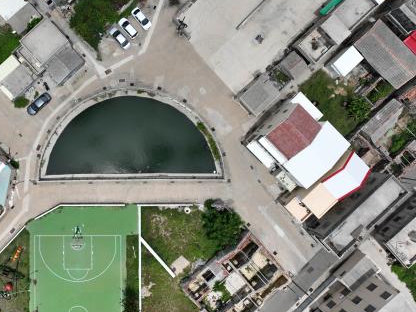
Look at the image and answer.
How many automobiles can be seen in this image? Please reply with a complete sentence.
There are 4 automobiles in the image.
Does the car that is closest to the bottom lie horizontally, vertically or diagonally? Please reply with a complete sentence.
What the image shows is the car that is closest to the bottom lying diagonally.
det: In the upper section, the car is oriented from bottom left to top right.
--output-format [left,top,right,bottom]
[25,91,52,116]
